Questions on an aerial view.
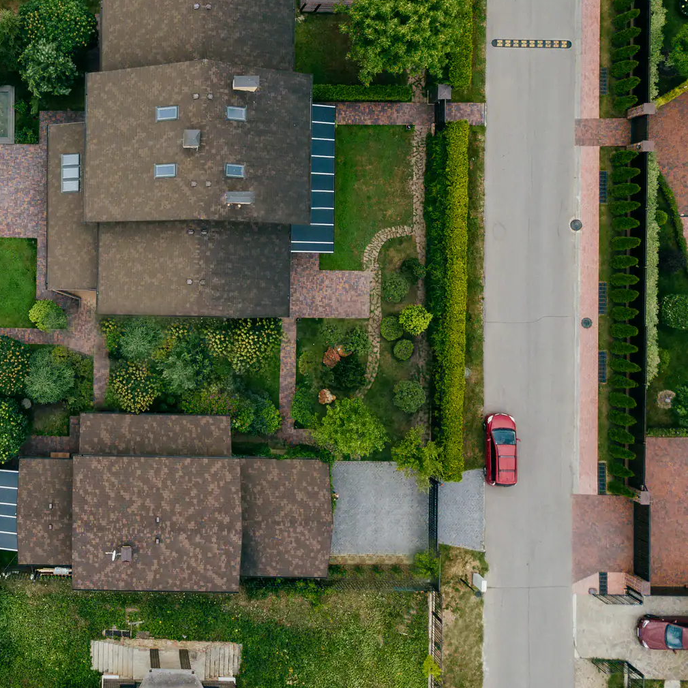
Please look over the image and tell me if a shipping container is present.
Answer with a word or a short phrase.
No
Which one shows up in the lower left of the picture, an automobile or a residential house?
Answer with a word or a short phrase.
residential house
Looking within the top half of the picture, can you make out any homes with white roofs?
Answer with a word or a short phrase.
No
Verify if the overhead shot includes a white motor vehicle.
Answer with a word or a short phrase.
No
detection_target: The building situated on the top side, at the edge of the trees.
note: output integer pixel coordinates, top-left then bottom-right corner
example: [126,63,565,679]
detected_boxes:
[45,0,336,320]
